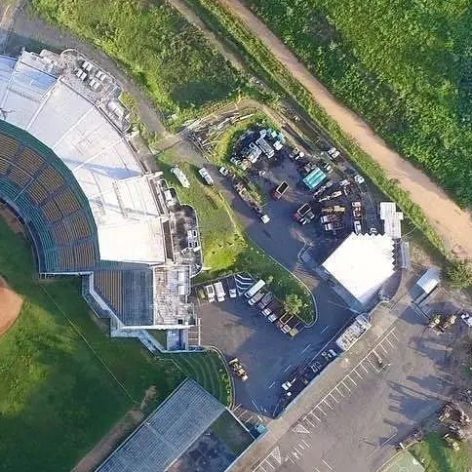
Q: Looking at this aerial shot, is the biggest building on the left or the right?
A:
right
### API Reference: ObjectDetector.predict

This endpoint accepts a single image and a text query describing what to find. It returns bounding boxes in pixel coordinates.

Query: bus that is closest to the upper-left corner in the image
[170,161,190,187]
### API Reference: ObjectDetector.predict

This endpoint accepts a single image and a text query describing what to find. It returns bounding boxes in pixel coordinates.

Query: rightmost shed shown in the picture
[411,266,441,294]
